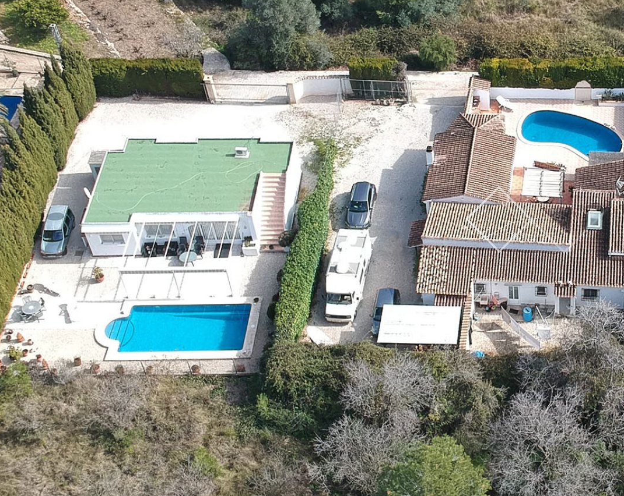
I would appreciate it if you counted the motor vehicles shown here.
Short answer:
four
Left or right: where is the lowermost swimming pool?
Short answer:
left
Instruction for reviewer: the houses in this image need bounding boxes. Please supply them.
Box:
[81,137,299,256]
[407,111,624,312]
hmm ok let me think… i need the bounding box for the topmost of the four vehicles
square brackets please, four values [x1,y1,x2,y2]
[344,179,375,225]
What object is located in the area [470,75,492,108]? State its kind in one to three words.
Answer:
shed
